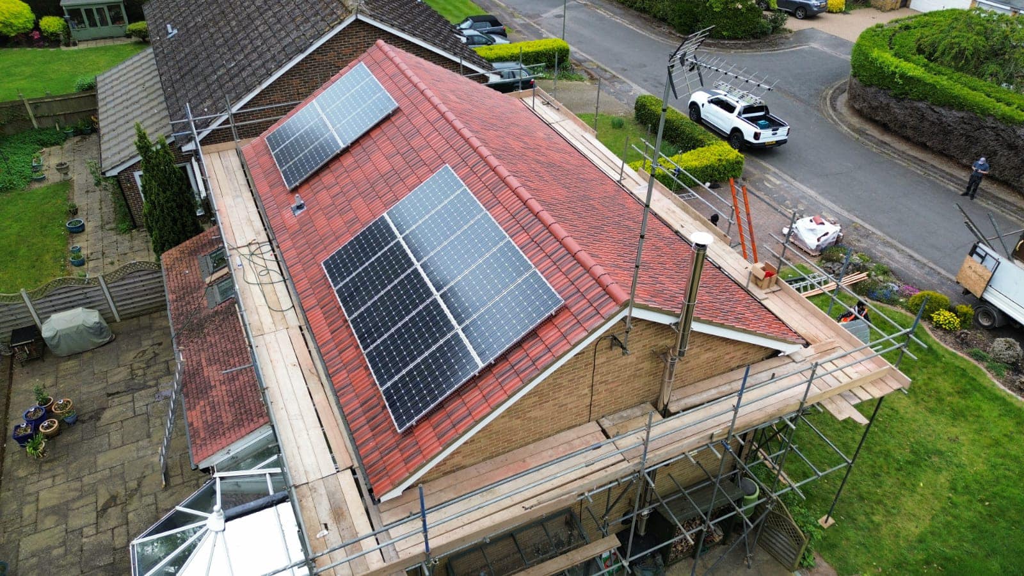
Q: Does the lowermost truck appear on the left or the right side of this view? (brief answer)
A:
right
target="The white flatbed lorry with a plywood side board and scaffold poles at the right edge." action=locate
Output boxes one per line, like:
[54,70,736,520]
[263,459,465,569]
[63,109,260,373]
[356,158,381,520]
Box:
[953,234,1024,324]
